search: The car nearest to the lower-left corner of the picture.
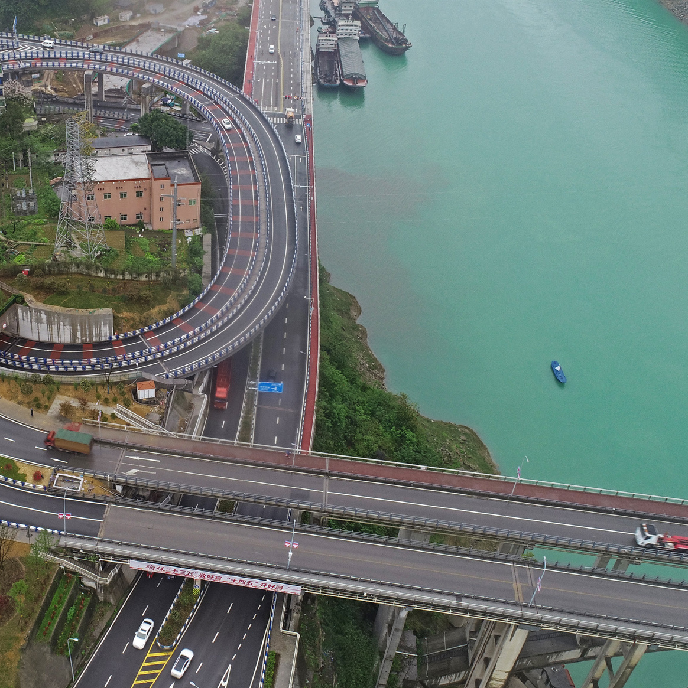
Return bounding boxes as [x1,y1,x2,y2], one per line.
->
[130,614,157,648]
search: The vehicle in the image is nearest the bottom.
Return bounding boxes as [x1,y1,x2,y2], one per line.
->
[167,646,199,679]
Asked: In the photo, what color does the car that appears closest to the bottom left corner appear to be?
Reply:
white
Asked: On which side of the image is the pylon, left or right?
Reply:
left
